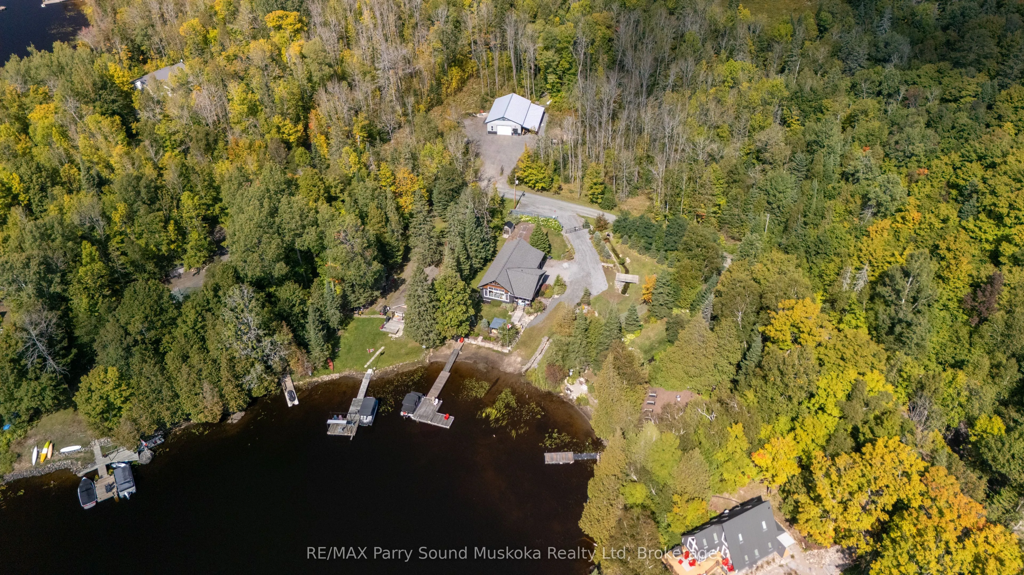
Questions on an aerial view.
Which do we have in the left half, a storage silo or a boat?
boat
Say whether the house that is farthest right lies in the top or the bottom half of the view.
bottom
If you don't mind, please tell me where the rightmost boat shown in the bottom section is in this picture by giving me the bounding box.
[400,390,425,424]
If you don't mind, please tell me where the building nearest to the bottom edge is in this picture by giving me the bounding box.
[673,495,796,575]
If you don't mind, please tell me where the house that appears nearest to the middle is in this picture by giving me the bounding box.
[476,236,547,313]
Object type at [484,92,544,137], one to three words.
building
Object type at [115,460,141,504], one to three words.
boat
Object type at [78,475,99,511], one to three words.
boat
